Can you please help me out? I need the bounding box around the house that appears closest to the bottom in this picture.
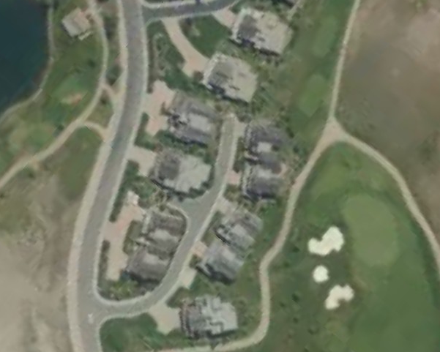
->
[181,296,240,337]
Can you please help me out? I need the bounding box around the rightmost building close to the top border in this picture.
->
[232,8,291,55]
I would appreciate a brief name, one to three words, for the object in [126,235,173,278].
house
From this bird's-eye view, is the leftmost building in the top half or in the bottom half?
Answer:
top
